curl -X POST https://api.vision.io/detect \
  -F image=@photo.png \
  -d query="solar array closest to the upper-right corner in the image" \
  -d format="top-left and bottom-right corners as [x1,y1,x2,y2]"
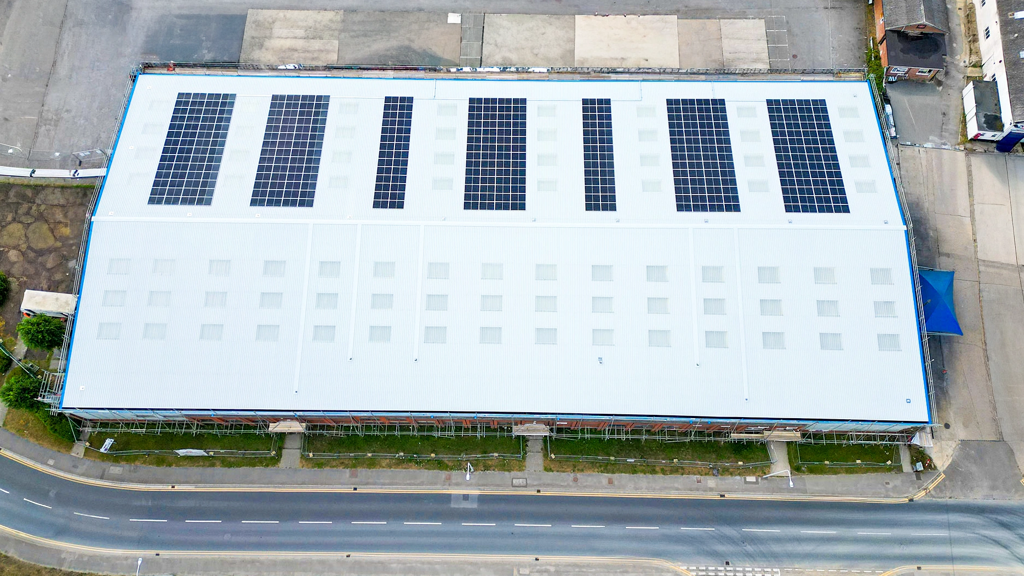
[767,100,851,214]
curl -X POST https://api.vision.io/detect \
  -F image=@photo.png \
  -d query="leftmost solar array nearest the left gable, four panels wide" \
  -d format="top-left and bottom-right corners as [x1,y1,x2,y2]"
[147,94,236,206]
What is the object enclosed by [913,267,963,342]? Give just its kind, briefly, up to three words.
gazebo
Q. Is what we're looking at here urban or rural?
urban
